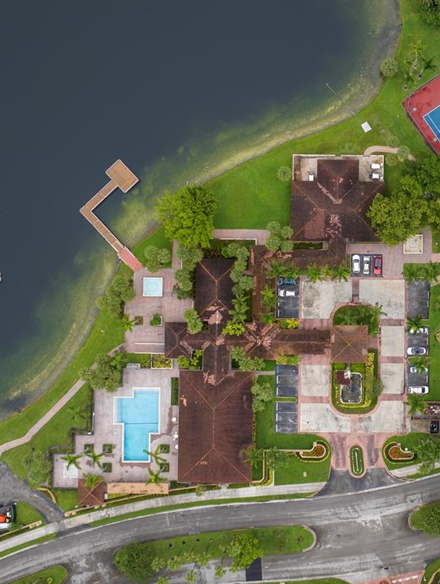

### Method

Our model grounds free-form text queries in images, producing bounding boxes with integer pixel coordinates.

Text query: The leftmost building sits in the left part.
[77,479,105,505]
